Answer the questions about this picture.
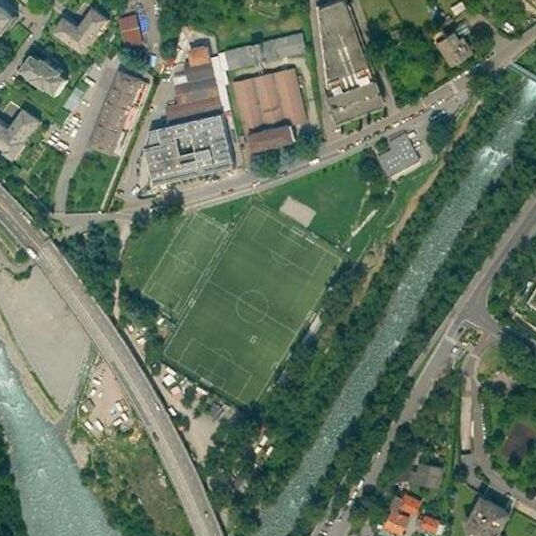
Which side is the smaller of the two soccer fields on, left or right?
left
